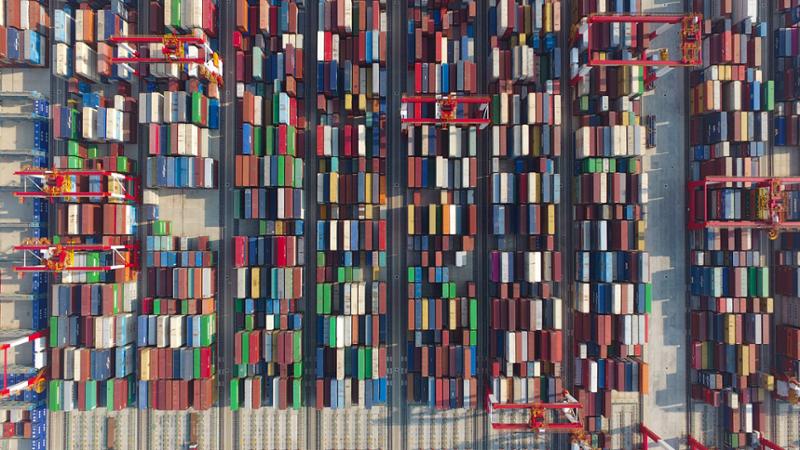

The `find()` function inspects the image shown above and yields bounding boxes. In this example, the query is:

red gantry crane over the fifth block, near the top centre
[400,93,491,140]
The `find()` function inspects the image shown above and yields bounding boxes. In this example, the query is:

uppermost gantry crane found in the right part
[566,10,705,84]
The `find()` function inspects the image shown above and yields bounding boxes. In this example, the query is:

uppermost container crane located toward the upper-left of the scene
[111,30,230,111]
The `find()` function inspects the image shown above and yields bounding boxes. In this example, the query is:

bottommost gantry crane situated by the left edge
[0,328,48,396]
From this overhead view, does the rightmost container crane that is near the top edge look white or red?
red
